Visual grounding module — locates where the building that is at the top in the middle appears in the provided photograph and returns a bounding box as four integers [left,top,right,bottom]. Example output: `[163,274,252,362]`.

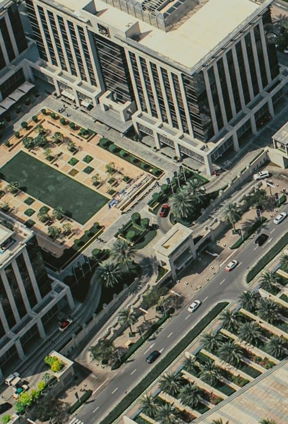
[26,0,288,176]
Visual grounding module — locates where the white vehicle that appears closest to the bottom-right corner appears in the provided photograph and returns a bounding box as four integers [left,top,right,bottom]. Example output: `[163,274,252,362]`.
[186,299,203,315]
